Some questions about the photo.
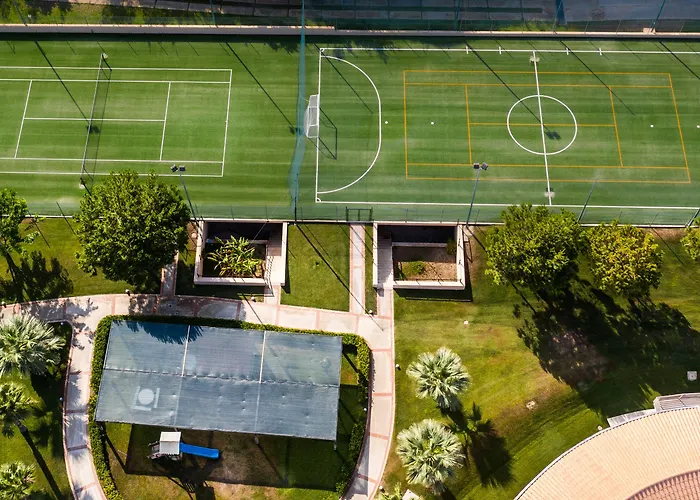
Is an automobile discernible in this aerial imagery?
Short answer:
No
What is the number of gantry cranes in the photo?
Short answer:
0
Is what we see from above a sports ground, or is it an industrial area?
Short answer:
sports ground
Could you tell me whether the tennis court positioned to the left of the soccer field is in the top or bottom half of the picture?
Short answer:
top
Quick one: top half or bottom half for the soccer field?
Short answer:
top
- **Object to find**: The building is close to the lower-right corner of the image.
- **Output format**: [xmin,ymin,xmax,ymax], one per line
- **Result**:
[512,389,700,500]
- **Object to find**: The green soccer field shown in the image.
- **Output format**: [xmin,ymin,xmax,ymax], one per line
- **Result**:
[297,36,700,226]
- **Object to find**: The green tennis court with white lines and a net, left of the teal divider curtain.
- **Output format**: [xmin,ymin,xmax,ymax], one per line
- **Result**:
[0,31,305,221]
